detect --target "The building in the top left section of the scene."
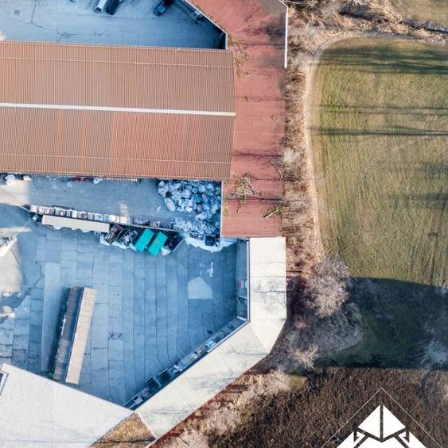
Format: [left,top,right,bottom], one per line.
[0,40,236,182]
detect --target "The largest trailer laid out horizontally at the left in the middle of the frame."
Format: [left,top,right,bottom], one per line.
[40,215,112,233]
